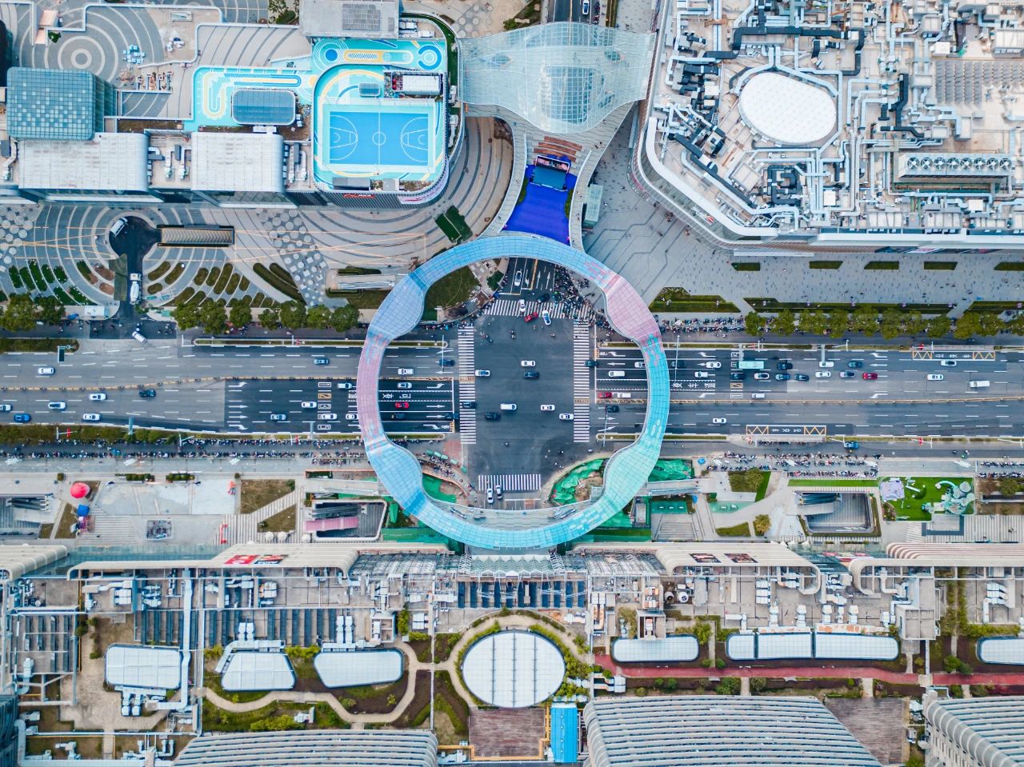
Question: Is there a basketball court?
Yes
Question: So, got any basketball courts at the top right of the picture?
No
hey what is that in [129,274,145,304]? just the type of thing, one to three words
vehicle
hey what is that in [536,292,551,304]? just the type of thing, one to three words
vehicle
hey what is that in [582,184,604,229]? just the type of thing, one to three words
building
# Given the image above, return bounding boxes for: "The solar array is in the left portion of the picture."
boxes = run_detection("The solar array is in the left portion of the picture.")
[343,4,380,30]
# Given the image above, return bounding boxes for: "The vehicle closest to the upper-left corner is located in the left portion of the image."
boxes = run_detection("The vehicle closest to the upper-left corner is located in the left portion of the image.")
[110,219,125,235]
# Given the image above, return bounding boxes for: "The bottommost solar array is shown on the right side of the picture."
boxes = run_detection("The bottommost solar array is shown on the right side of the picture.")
[936,61,1024,104]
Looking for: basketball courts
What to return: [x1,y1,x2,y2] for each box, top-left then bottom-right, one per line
[321,98,437,175]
